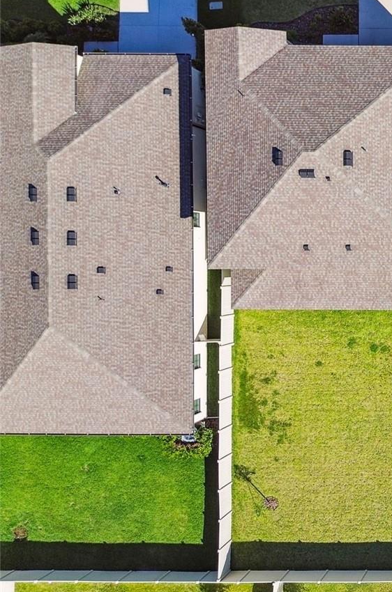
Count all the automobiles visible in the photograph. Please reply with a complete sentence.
There are no automobiles in this view.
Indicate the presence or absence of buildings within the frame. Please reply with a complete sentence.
Yes, there's a building here.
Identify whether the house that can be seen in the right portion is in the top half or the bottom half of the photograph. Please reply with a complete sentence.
It is in the top half that the house that can be seen in the right portion appears.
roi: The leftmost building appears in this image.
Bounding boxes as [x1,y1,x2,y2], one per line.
[0,41,206,435]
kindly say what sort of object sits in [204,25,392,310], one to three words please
house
